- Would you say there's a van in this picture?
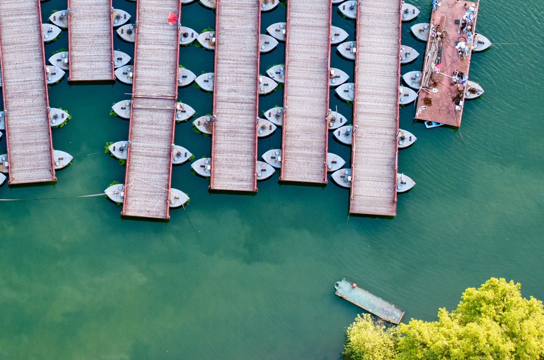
No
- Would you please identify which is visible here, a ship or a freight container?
ship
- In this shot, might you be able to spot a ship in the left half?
No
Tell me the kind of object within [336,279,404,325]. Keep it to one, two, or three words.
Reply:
ship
